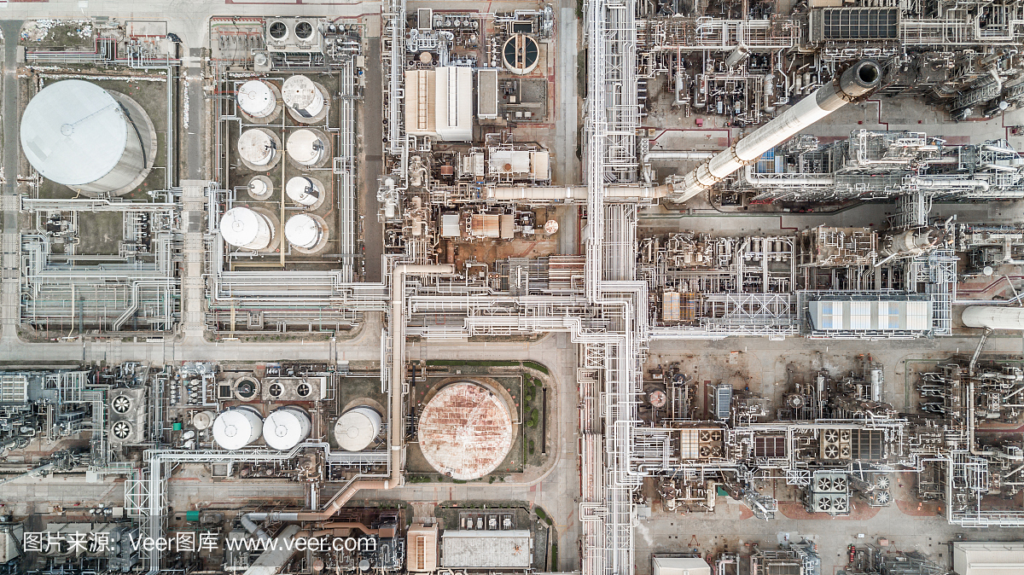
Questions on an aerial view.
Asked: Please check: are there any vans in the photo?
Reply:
No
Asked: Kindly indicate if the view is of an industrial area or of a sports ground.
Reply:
industrial area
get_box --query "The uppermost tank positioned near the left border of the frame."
[18,78,157,198]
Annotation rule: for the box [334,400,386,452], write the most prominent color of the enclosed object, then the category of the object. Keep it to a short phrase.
white storage tank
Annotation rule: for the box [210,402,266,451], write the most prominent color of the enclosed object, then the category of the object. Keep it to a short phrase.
white storage tank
